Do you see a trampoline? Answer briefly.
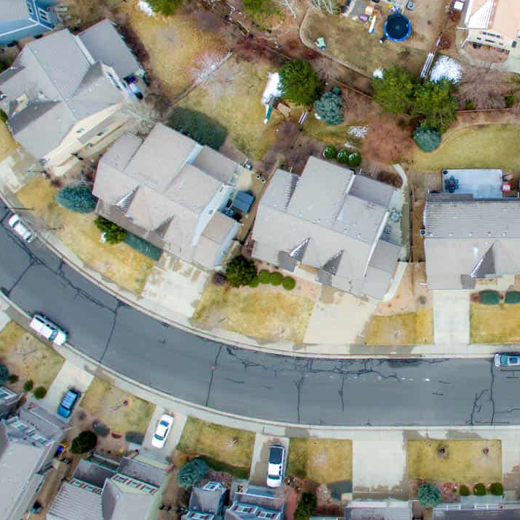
Yes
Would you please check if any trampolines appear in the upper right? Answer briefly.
Yes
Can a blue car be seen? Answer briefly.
Yes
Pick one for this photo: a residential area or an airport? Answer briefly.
residential area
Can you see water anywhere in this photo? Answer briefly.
No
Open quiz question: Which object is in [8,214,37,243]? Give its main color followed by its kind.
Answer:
white car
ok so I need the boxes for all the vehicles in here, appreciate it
[8,214,37,243]
[495,353,520,368]
[266,446,283,486]
[30,314,66,343]
[152,415,173,448]
[58,387,81,418]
